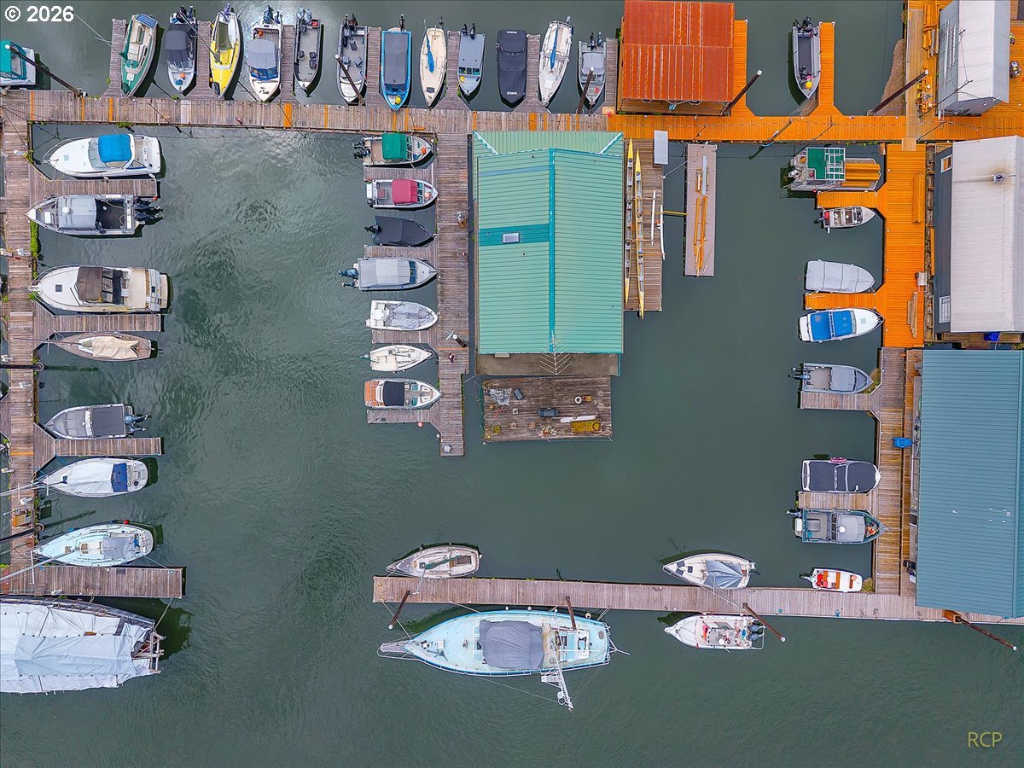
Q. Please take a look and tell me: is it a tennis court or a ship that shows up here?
ship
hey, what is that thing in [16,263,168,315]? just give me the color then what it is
white boat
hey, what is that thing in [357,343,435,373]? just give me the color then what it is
white boat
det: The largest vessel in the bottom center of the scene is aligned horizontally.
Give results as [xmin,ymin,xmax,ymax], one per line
[379,597,630,698]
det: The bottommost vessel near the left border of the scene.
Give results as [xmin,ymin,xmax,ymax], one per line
[0,593,173,695]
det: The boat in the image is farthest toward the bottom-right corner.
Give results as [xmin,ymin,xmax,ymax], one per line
[799,568,863,592]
